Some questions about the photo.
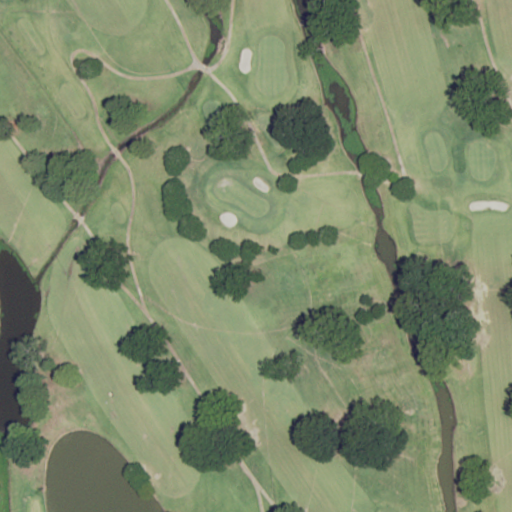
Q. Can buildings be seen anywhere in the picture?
No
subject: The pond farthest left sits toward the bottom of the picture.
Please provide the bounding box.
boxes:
[0,254,40,432]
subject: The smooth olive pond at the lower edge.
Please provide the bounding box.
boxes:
[46,431,164,512]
